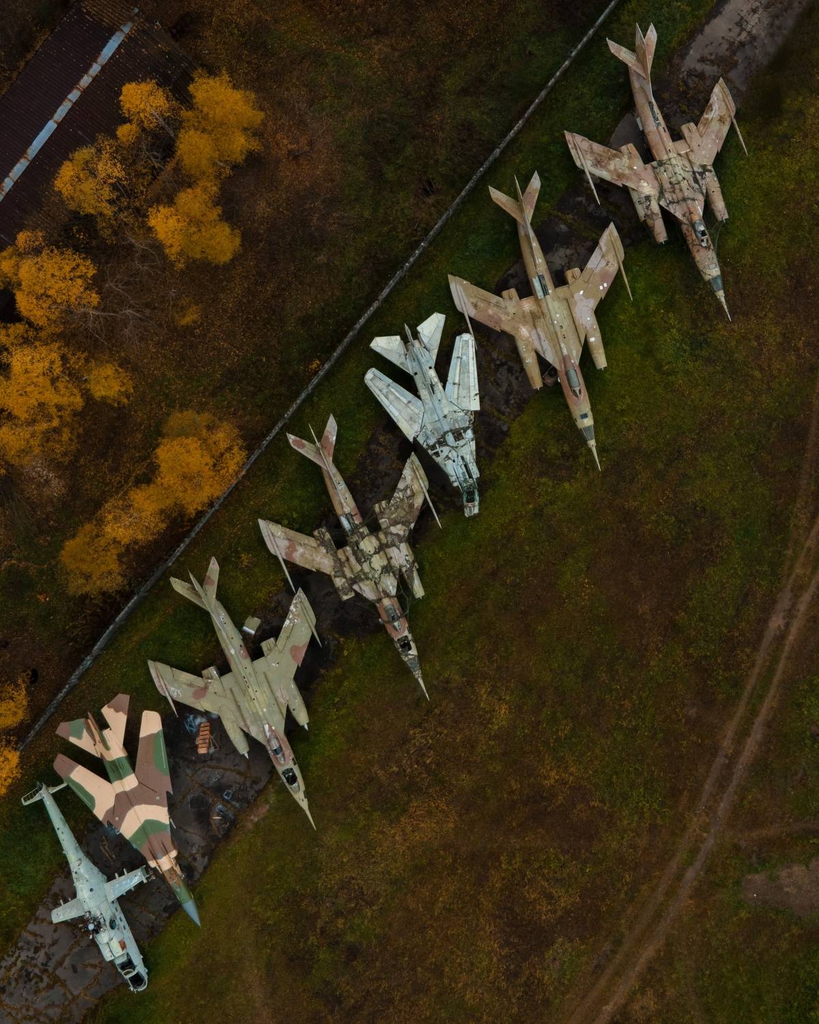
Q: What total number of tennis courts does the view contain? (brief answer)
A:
0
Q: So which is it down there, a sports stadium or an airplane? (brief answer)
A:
airplane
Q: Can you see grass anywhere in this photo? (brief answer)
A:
Yes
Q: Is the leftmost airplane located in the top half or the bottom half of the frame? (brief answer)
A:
bottom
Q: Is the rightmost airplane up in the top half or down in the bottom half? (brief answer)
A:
top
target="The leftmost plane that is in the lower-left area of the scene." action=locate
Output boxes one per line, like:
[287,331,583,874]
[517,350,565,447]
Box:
[54,693,201,927]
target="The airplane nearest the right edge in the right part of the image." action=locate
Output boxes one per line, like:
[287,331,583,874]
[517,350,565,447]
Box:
[564,19,751,320]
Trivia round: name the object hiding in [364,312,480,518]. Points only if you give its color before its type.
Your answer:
white airplane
